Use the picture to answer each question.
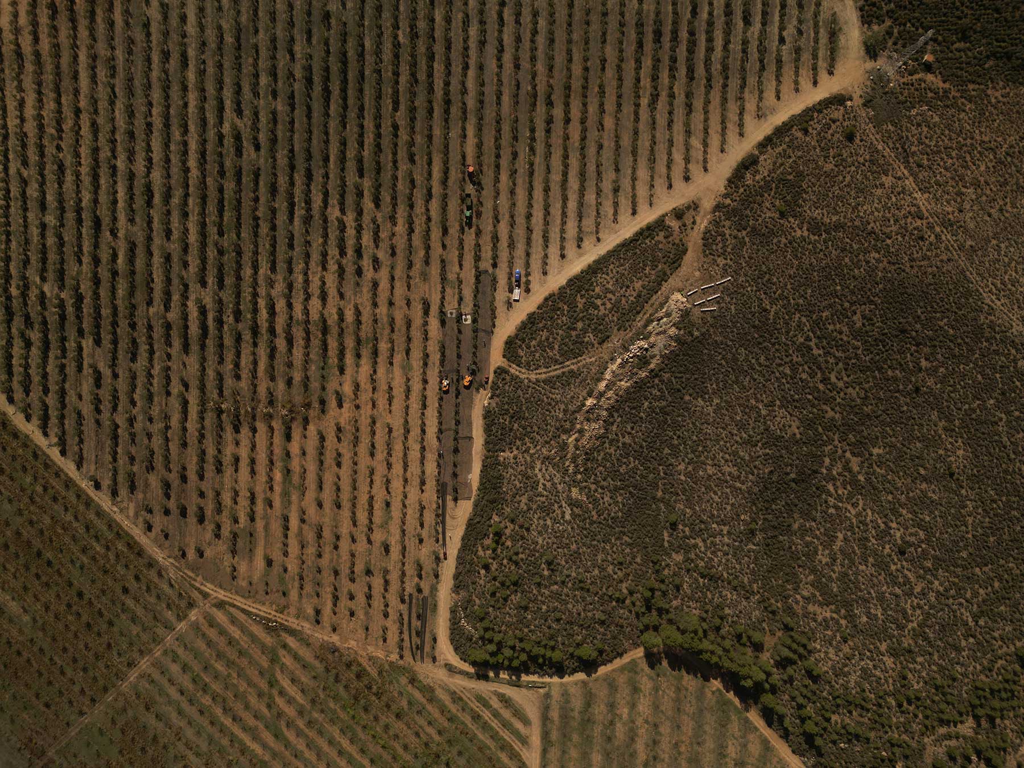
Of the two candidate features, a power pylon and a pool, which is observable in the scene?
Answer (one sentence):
The one in the frame is a power pylon.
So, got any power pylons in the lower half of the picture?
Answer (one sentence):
No, there's no power pylon to be seen in the lower half of the picture.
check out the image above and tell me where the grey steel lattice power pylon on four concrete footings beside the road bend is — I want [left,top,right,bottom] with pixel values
[870,28,937,86]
